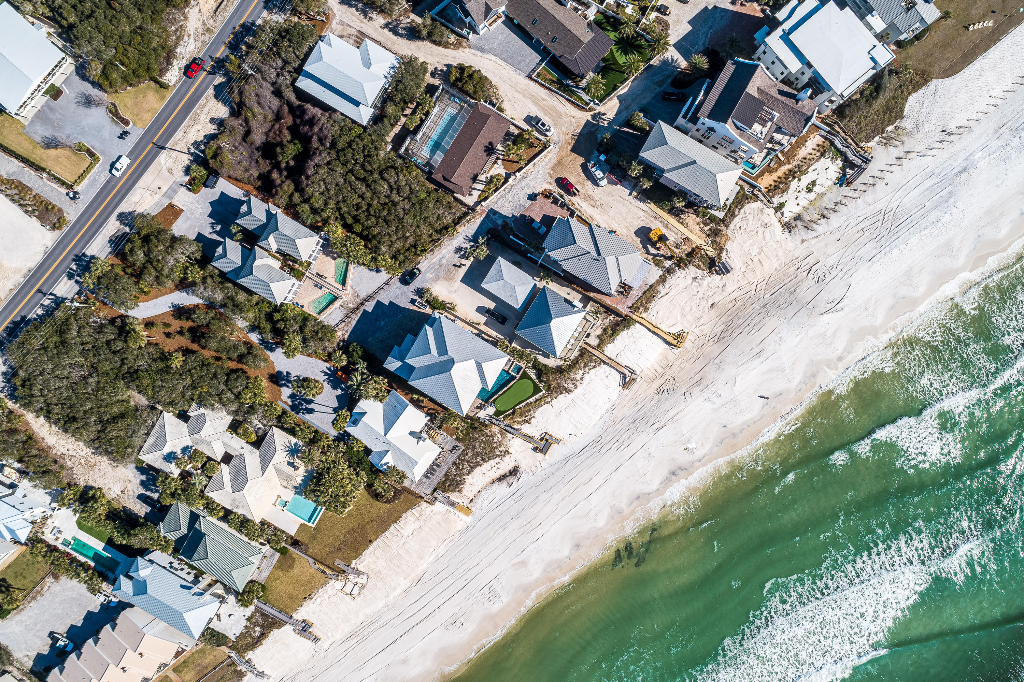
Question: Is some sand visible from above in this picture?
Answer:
Yes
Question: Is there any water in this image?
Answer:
Yes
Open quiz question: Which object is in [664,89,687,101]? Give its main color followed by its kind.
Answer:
black vehicle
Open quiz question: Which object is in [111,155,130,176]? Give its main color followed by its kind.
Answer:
white car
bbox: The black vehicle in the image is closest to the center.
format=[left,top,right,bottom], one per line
[485,307,508,325]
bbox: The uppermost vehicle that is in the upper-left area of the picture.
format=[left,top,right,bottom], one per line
[184,54,204,78]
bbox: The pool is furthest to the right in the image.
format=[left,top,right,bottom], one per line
[738,159,763,175]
